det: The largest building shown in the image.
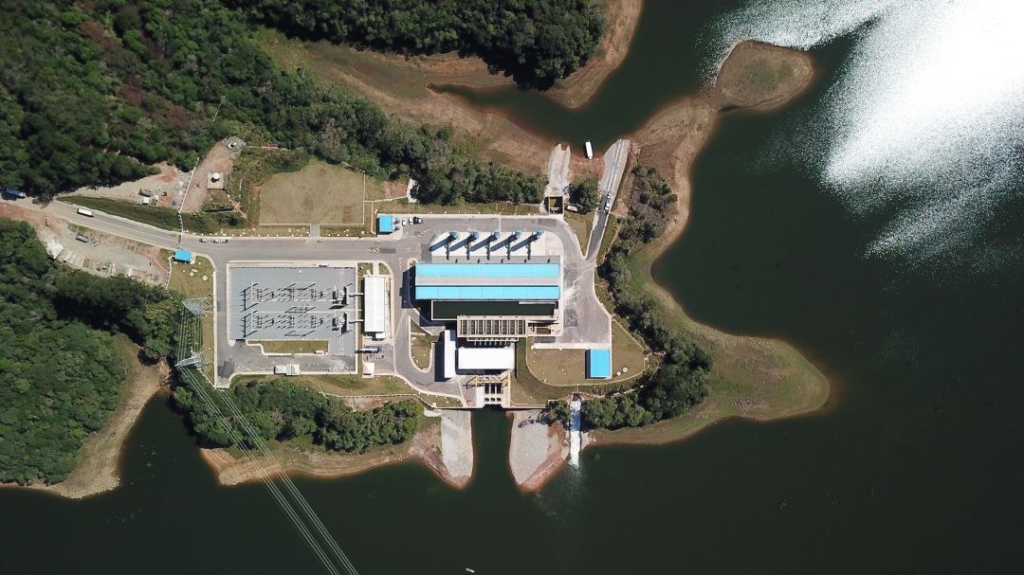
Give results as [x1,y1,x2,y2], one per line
[414,263,560,299]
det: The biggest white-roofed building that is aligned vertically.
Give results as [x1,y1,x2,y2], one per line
[365,276,390,334]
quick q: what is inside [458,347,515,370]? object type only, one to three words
building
